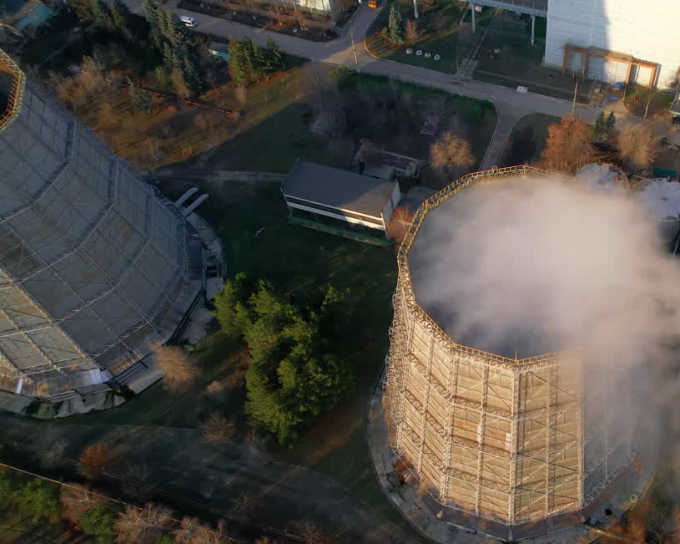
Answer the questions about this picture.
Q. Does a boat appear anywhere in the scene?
No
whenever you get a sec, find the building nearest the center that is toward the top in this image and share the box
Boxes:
[280,160,404,257]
